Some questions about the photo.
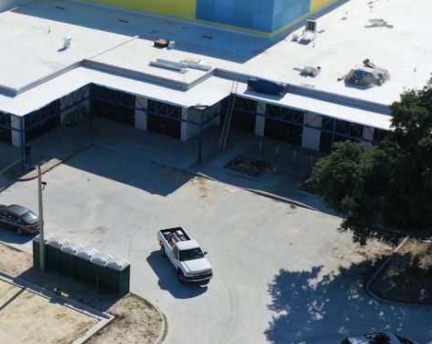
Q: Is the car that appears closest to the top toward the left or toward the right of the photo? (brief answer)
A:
left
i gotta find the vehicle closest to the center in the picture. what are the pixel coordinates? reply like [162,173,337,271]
[160,228,213,285]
